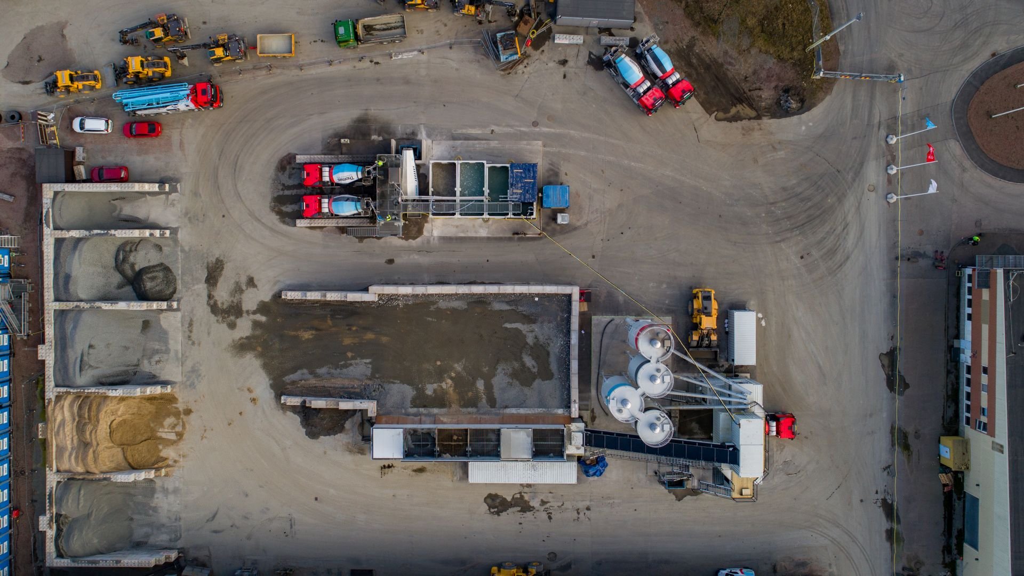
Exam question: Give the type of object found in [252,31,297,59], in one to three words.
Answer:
trailer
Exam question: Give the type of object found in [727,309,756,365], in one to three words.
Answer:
shipping container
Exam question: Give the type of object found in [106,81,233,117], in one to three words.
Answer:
truck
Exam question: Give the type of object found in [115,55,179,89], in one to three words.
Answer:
work vehicle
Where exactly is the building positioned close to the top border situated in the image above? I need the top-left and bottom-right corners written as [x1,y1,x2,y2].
[555,0,636,34]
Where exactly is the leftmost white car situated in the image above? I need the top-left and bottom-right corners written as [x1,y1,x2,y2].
[74,115,114,135]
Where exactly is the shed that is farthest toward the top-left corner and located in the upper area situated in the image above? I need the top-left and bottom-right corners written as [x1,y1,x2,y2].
[33,148,82,184]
